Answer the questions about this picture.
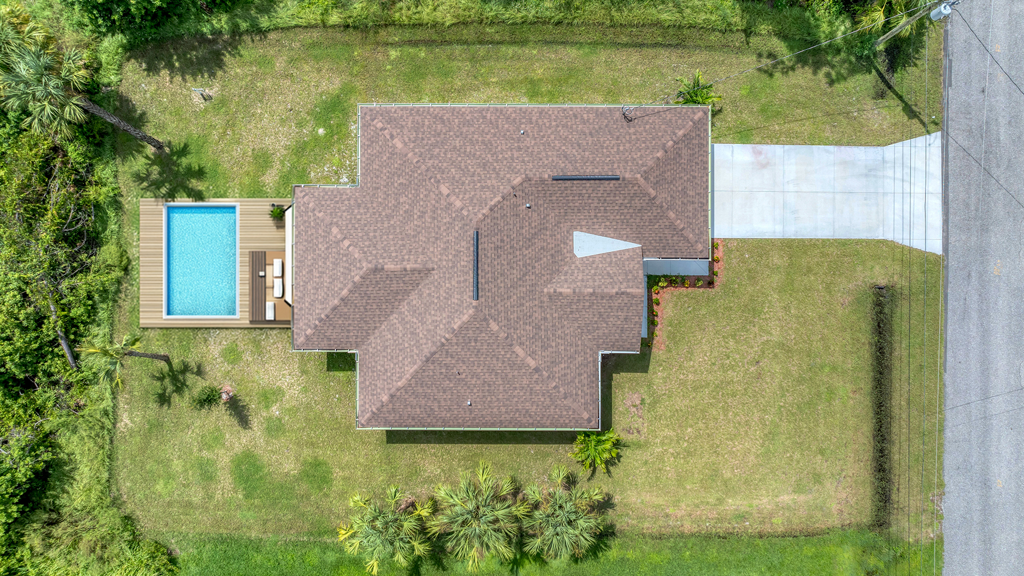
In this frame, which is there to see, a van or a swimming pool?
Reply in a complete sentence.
The one in the frame is a swimming pool.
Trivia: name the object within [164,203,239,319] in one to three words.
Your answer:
swimming pool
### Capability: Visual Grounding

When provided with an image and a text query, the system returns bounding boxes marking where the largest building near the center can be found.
[290,103,713,431]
